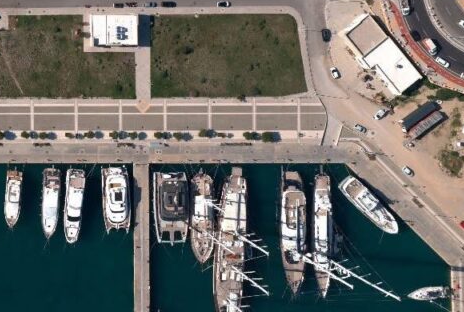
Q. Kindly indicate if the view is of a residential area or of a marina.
marina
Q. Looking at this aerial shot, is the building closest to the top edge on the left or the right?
left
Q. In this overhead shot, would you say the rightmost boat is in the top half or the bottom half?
bottom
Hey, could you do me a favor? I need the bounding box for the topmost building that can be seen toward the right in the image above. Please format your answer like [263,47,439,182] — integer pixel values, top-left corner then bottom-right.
[338,14,423,95]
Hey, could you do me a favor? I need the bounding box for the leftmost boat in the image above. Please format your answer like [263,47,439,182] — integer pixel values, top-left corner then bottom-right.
[4,159,23,228]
